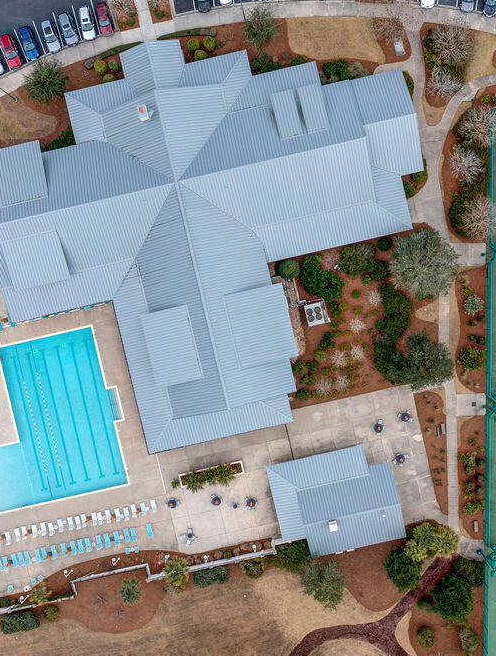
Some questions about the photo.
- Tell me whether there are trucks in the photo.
No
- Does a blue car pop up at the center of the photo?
No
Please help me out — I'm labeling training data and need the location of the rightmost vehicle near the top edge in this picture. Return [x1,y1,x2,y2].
[481,0,496,19]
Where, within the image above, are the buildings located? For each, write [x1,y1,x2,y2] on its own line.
[266,445,406,557]
[0,40,424,455]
